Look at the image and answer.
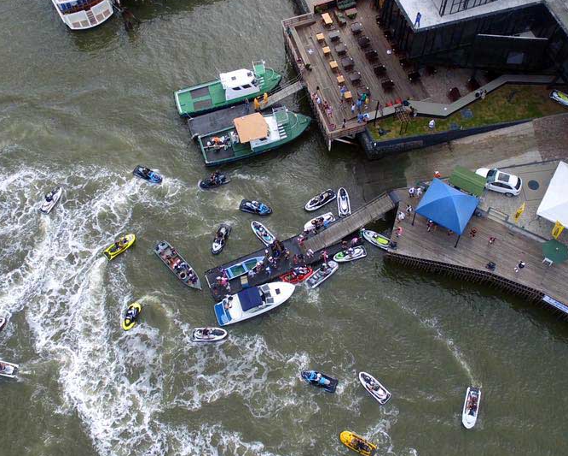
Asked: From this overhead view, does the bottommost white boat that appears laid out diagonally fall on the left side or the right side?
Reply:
right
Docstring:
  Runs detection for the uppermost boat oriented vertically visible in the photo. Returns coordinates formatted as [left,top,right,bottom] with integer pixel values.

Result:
[337,187,350,216]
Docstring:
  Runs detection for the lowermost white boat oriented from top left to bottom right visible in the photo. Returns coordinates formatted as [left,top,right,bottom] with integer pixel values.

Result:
[360,373,393,406]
